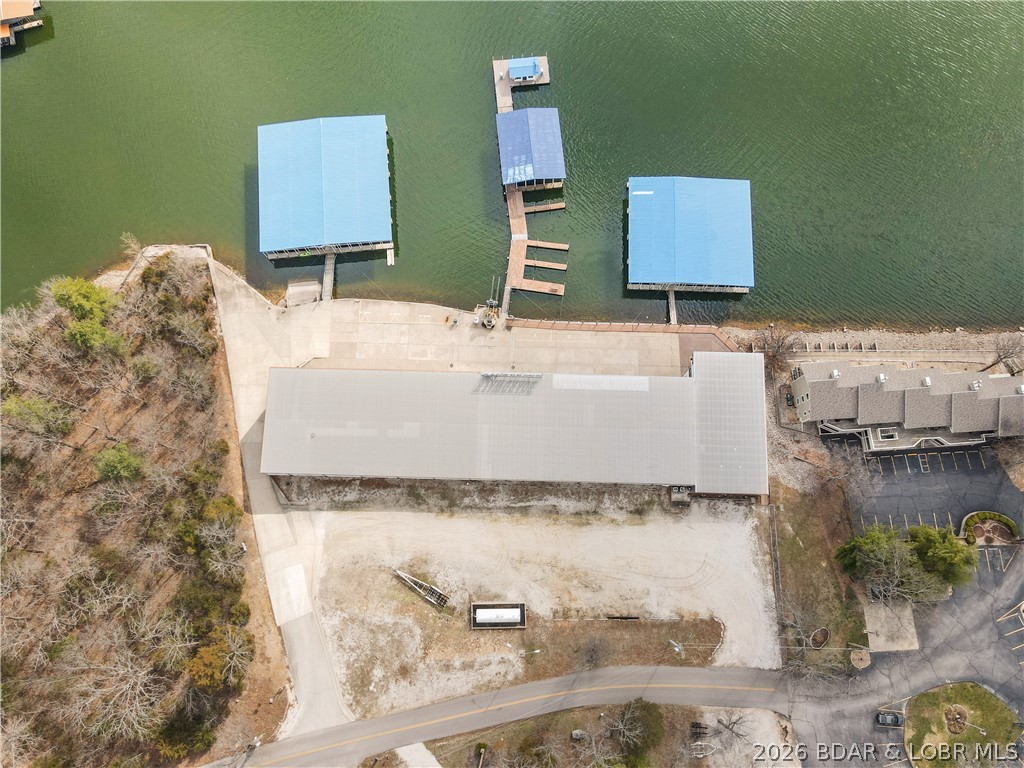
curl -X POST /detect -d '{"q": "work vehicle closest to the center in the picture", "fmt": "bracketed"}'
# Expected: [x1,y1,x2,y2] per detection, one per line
[481,282,498,329]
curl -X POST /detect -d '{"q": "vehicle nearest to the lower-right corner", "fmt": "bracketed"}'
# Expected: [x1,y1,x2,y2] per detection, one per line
[878,714,906,728]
